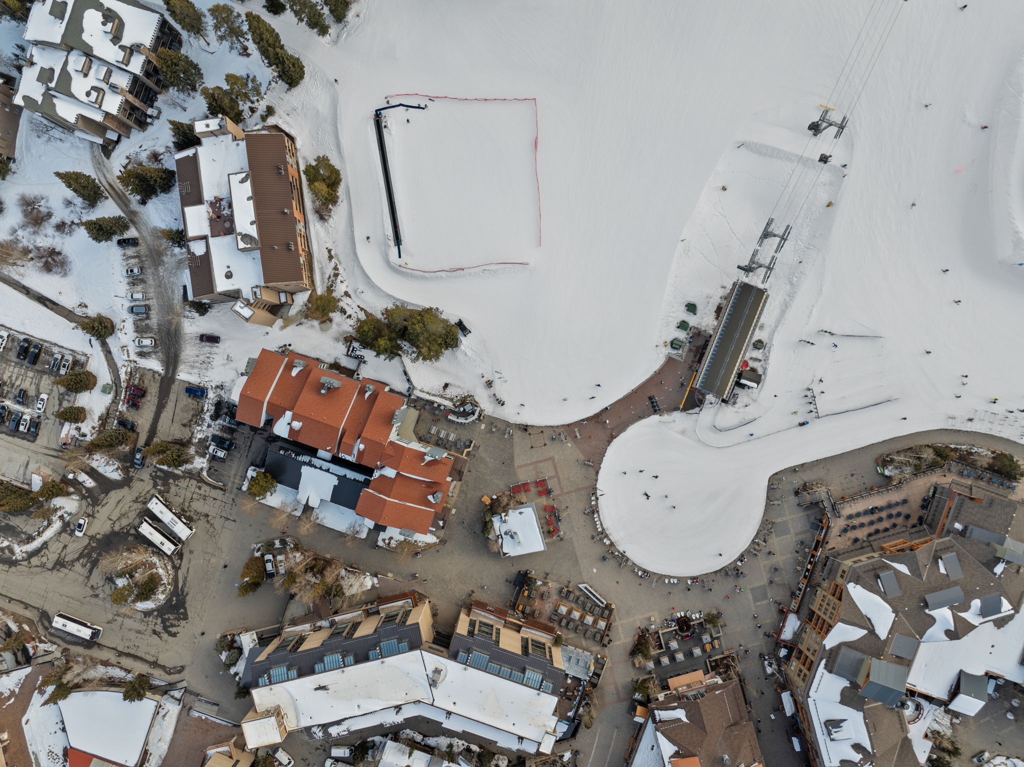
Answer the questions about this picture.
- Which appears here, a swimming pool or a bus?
bus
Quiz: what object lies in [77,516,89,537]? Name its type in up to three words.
vehicle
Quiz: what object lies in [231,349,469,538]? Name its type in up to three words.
building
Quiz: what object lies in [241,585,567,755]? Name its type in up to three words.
building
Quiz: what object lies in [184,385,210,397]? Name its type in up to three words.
vehicle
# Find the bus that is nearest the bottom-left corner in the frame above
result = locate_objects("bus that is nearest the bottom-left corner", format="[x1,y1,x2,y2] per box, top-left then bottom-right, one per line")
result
[49,612,108,642]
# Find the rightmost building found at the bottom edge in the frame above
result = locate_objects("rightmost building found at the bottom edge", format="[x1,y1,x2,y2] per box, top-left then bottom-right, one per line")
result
[773,480,1024,767]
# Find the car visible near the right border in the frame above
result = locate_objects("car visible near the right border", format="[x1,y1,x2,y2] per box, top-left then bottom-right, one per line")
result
[969,747,991,765]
